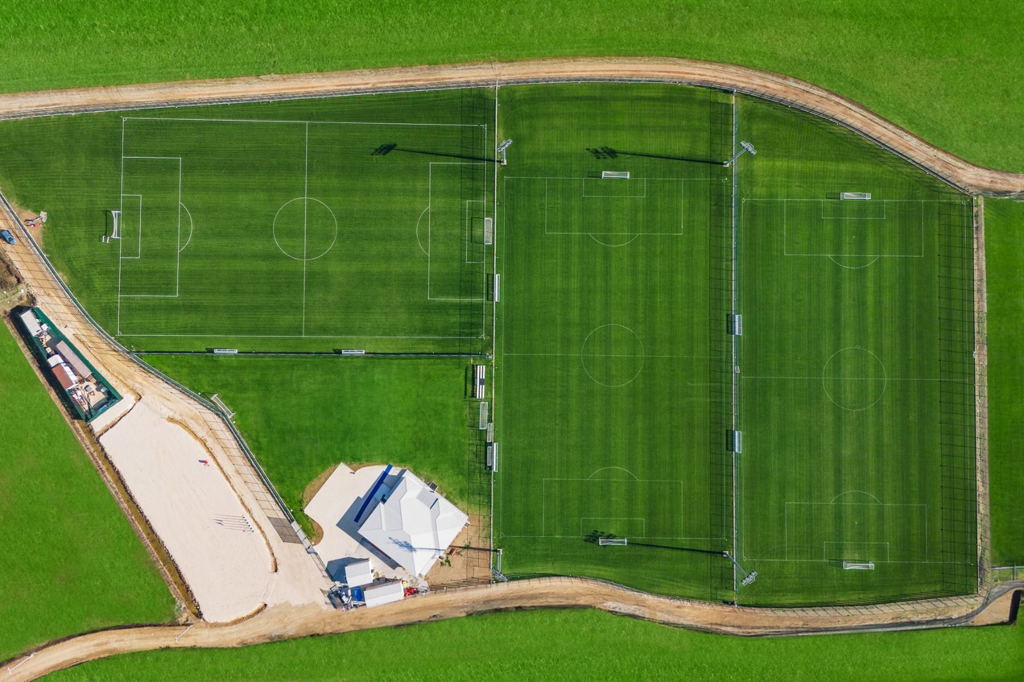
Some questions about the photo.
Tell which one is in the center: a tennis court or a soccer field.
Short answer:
soccer field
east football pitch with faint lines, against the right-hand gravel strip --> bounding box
[734,91,977,606]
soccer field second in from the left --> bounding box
[492,81,734,605]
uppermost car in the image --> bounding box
[2,228,17,243]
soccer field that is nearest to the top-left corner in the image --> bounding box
[0,86,496,355]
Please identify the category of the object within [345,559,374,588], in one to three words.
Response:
shed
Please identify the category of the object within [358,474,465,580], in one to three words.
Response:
building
